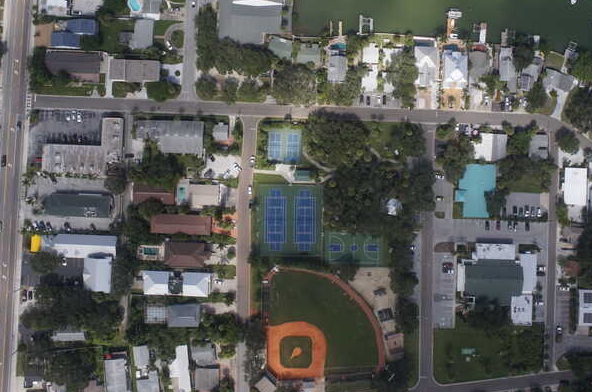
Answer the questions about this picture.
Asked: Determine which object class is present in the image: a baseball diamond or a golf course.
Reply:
baseball diamond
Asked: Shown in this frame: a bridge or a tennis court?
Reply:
tennis court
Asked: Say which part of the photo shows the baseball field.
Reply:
bottom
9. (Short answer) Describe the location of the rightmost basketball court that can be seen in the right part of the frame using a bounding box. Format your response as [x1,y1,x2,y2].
[325,232,390,267]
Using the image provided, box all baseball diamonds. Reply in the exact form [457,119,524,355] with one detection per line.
[267,267,384,380]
